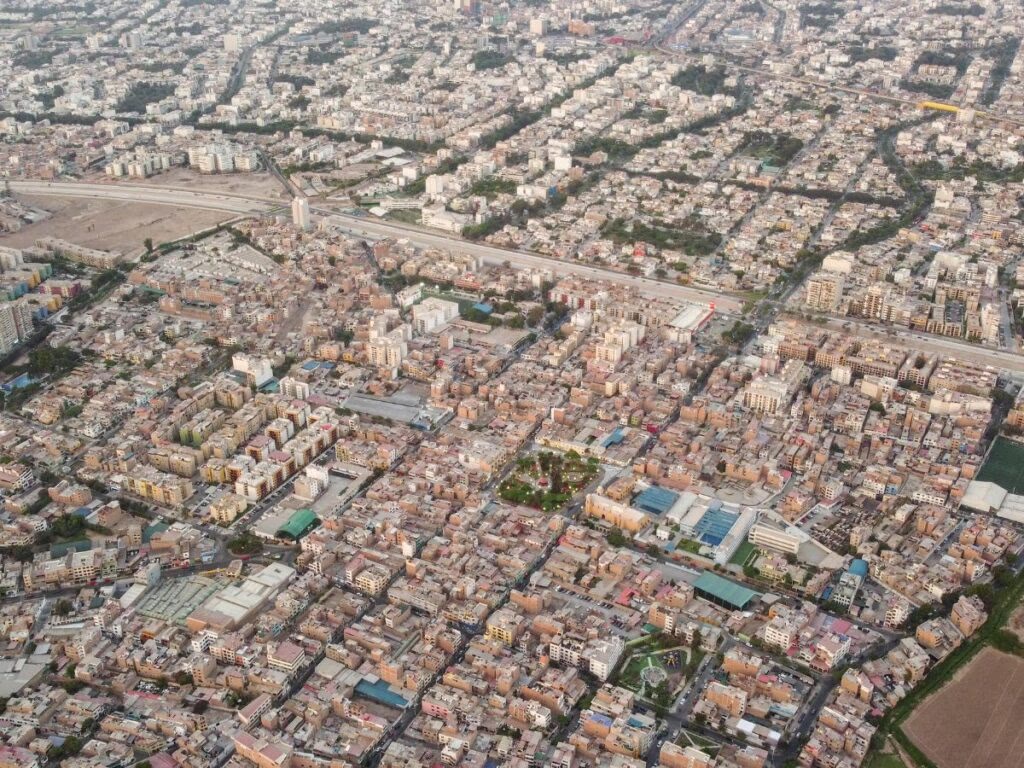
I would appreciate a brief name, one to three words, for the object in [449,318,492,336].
shed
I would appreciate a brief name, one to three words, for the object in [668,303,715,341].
building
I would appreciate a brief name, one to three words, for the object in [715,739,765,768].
house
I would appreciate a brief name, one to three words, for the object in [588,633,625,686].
building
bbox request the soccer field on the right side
[977,435,1024,497]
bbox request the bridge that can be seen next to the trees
[650,39,1024,122]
